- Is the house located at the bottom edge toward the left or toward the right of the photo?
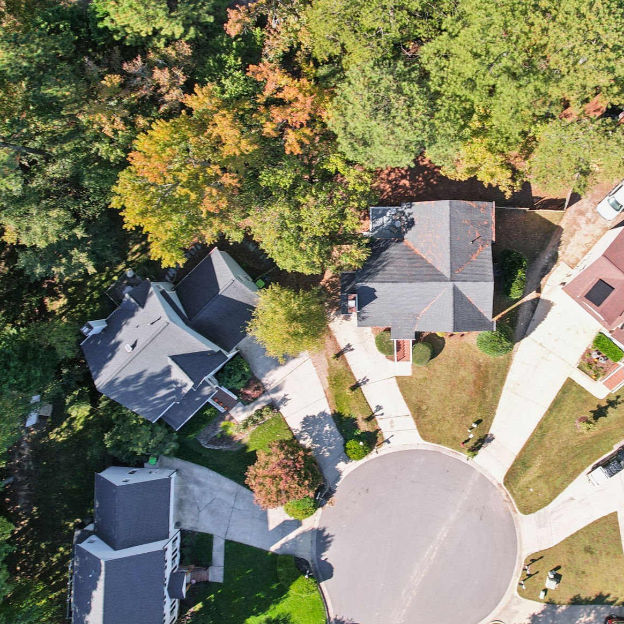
left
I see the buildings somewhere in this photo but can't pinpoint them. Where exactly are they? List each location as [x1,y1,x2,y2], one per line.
[554,225,624,395]
[341,199,497,363]
[71,469,209,624]
[26,404,60,426]
[80,247,269,432]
